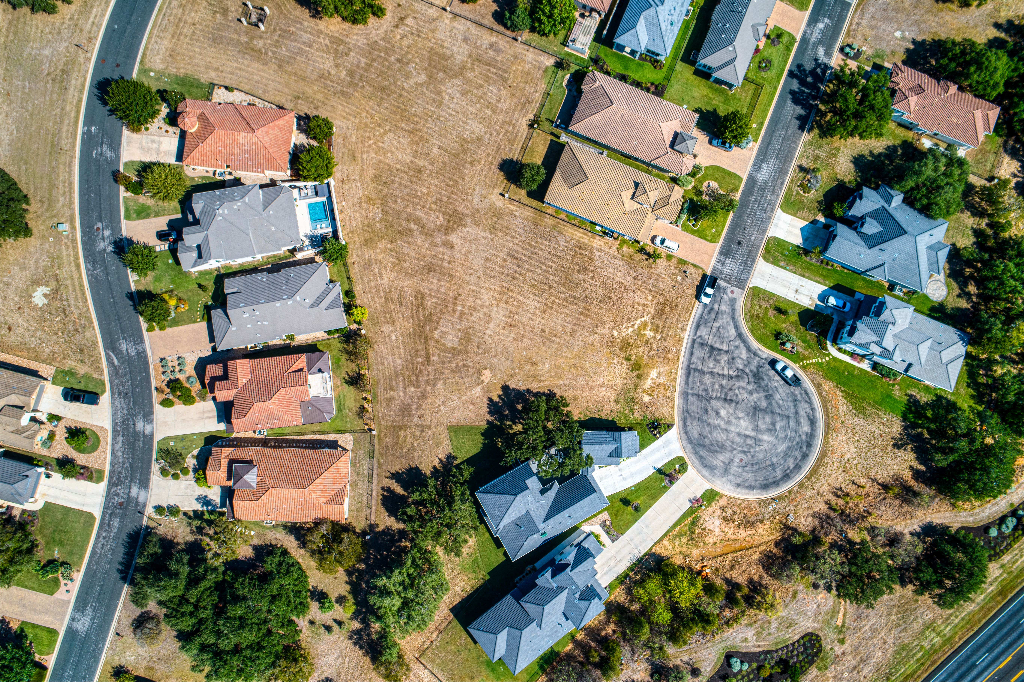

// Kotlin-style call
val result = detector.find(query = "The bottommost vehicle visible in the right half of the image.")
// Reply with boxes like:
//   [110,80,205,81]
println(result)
[771,359,803,388]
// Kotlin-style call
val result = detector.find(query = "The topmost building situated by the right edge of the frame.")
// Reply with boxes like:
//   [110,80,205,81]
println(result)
[885,61,1001,150]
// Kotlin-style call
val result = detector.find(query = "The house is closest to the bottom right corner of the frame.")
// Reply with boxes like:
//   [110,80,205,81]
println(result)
[845,294,972,392]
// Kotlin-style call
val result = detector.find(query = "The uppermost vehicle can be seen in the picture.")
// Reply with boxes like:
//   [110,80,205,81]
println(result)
[710,136,735,154]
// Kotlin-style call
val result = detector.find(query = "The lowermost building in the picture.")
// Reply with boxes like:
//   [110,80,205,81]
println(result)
[467,533,610,676]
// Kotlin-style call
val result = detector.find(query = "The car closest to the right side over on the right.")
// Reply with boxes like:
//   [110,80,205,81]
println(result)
[823,295,852,312]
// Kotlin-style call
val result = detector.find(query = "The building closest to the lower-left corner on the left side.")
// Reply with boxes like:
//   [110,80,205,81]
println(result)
[0,454,50,505]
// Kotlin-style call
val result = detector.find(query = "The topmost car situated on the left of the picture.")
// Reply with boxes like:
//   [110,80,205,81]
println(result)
[156,229,178,241]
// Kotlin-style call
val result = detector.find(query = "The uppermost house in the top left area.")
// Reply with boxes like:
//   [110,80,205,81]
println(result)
[177,98,297,175]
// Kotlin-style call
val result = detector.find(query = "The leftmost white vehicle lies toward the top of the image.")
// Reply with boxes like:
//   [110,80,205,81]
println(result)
[652,235,681,253]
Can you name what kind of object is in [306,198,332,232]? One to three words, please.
swimming pool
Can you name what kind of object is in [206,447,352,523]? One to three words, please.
house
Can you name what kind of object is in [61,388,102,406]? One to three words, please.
vehicle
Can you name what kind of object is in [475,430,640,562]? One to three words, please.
house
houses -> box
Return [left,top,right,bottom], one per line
[0,454,50,505]
[205,351,338,434]
[845,294,972,392]
[467,533,610,676]
[178,184,303,272]
[573,0,611,17]
[206,447,352,523]
[210,262,347,351]
[475,430,640,562]
[613,0,693,60]
[822,184,951,293]
[569,70,700,176]
[885,61,1001,150]
[544,141,685,244]
[0,367,51,451]
[697,0,776,89]
[177,98,297,175]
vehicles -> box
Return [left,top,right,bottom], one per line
[823,295,852,312]
[698,273,720,305]
[652,235,681,253]
[61,388,102,406]
[710,136,735,154]
[771,359,803,388]
[156,229,178,241]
